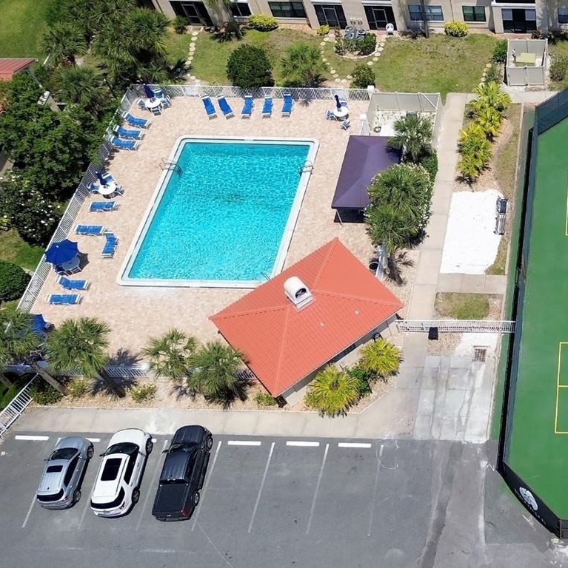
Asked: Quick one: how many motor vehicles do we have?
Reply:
3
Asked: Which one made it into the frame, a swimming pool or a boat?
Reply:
swimming pool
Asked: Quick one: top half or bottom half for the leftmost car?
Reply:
bottom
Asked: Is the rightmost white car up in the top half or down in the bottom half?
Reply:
bottom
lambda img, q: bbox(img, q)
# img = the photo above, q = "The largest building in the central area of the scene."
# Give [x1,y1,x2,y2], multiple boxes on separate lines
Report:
[209,237,404,405]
